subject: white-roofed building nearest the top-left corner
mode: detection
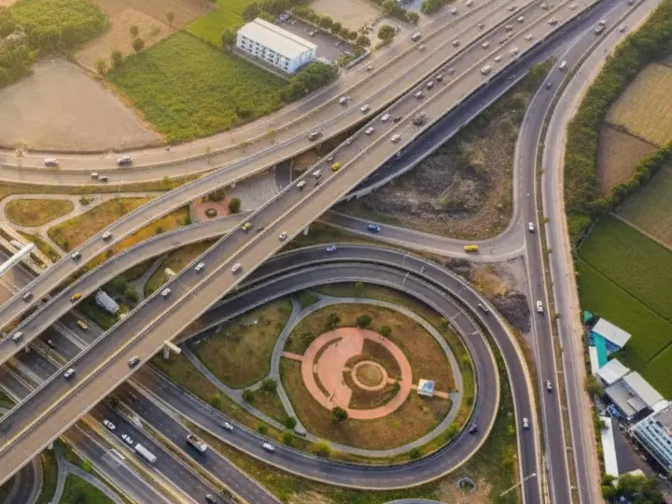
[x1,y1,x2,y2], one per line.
[235,14,313,76]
